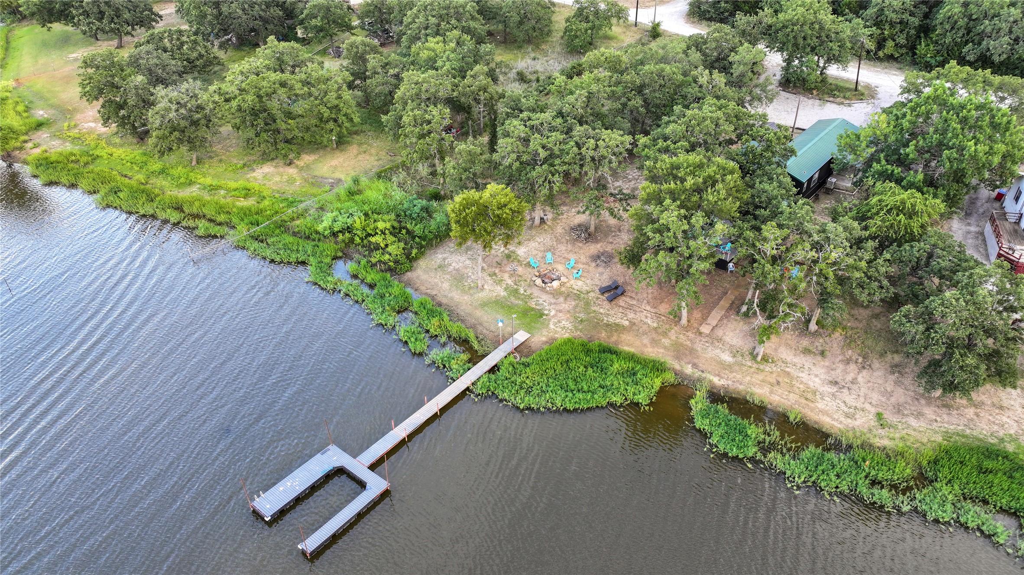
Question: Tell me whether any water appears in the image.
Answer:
Yes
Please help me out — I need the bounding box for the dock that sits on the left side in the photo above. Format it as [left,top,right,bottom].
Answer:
[243,419,391,562]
